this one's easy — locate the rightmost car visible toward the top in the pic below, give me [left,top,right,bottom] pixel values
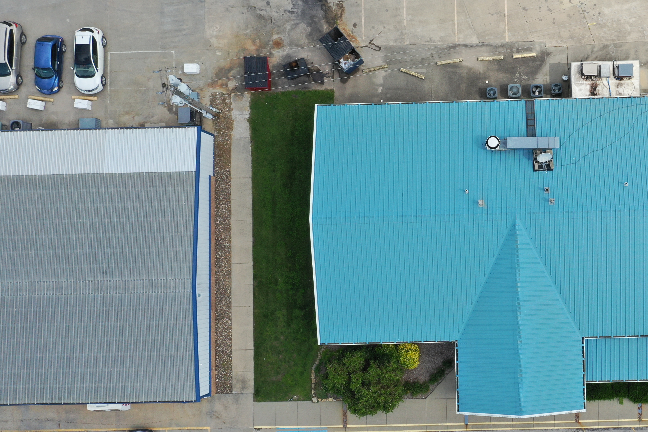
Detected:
[69,25,107,95]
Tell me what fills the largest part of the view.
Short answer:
buildings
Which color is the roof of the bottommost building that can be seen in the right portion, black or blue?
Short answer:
blue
